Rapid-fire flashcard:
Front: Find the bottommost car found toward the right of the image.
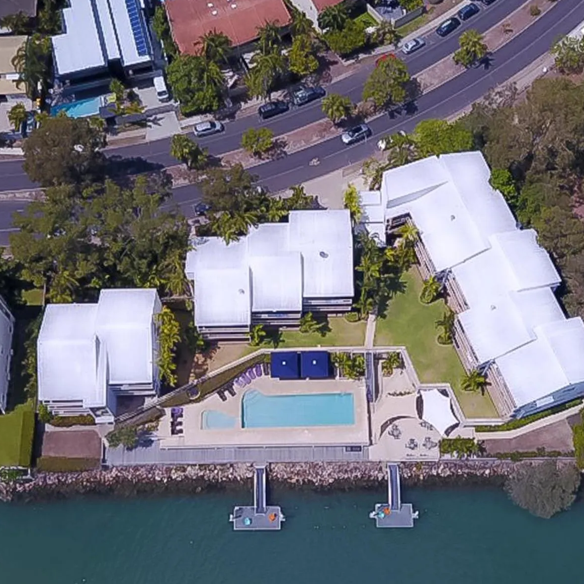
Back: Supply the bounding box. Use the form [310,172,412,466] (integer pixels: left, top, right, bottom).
[343,127,371,145]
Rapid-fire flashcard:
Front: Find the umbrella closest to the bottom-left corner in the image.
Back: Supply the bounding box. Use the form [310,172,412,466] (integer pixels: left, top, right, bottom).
[269,352,299,380]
